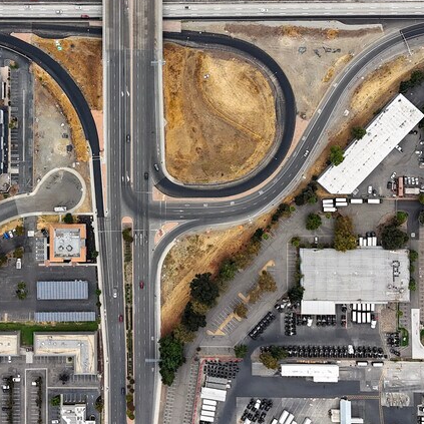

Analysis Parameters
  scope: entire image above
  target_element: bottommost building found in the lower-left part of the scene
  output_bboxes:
[61,401,95,424]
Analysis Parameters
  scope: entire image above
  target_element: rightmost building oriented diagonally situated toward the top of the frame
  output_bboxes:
[314,93,422,194]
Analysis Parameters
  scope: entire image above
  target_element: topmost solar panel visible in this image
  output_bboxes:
[37,281,88,300]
